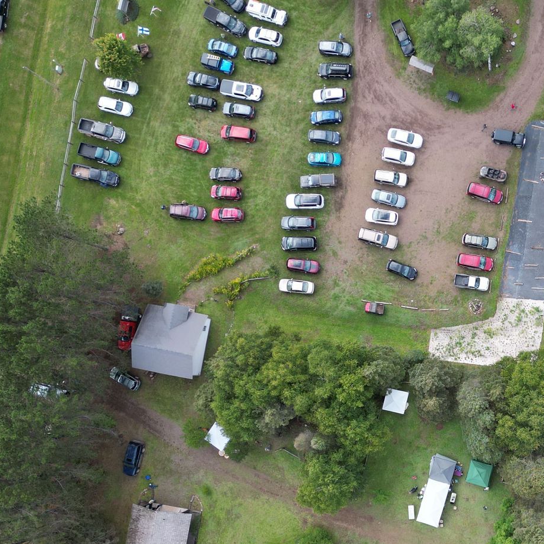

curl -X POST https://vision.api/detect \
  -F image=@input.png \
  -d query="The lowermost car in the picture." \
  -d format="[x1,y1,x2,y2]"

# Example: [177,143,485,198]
[123,440,146,477]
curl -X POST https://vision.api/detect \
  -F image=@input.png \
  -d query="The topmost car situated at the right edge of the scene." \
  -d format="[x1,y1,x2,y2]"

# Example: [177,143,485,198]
[492,129,524,147]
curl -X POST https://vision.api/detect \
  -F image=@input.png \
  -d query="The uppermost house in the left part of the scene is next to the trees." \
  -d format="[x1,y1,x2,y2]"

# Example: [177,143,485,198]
[132,303,210,379]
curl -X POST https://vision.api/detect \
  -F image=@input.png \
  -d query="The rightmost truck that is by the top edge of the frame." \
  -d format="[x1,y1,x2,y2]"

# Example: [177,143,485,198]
[388,16,417,60]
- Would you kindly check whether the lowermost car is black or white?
black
